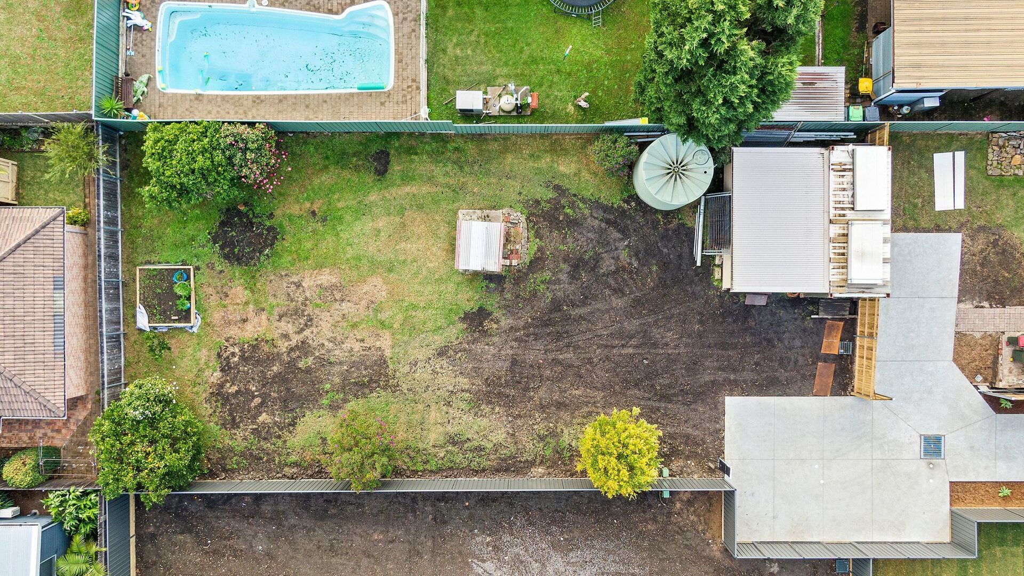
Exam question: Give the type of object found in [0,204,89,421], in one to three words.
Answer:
house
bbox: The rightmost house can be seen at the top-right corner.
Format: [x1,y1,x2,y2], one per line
[872,0,1024,105]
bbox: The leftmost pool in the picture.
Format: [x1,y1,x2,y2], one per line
[155,0,394,95]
